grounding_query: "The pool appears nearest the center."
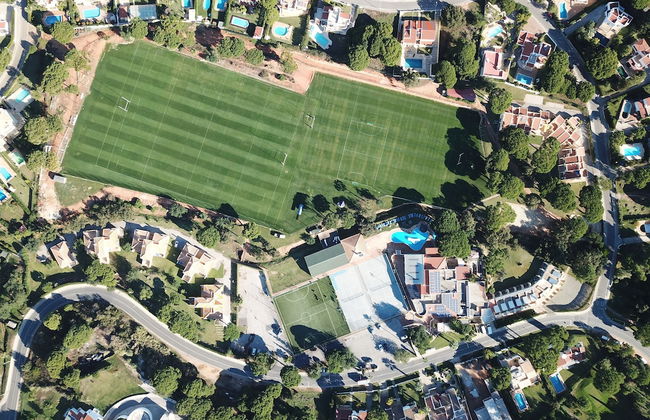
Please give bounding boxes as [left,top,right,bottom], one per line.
[390,227,430,252]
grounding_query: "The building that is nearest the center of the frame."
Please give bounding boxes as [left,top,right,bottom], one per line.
[303,233,369,275]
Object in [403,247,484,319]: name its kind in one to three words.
building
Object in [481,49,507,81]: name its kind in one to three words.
house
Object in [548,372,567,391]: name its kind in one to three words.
swimming pool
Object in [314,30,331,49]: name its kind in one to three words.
swimming pool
